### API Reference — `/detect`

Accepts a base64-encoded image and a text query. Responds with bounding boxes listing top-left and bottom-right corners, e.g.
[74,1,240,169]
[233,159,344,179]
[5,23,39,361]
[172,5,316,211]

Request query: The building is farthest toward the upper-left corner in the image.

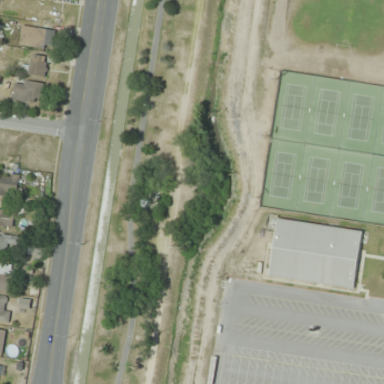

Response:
[19,24,55,48]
